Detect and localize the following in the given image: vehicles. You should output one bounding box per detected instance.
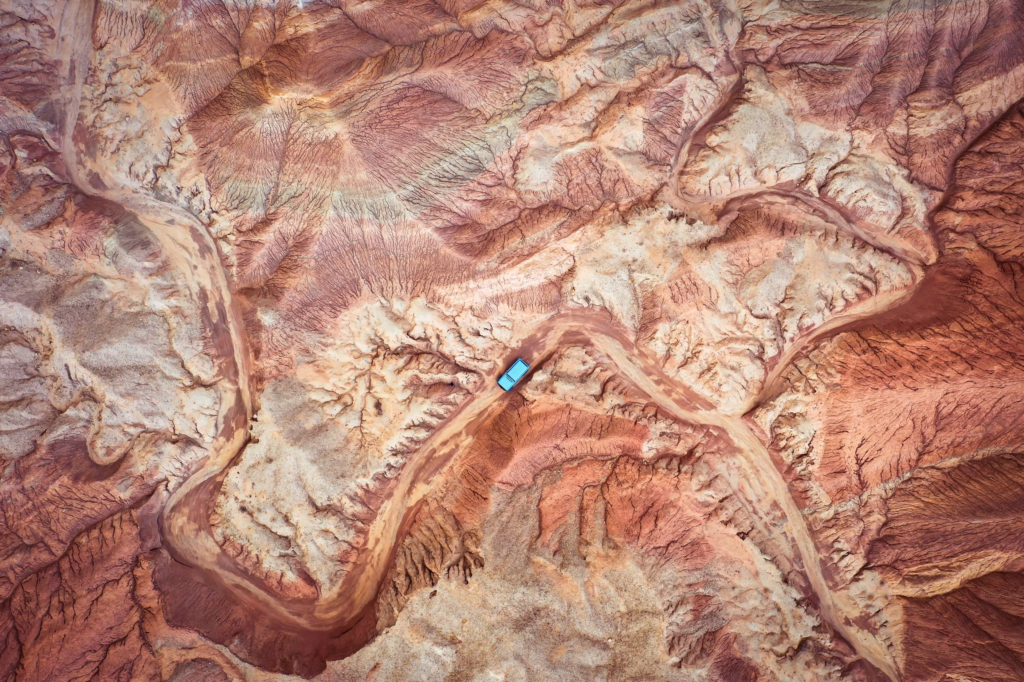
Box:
[499,357,531,391]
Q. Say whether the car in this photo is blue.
Yes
